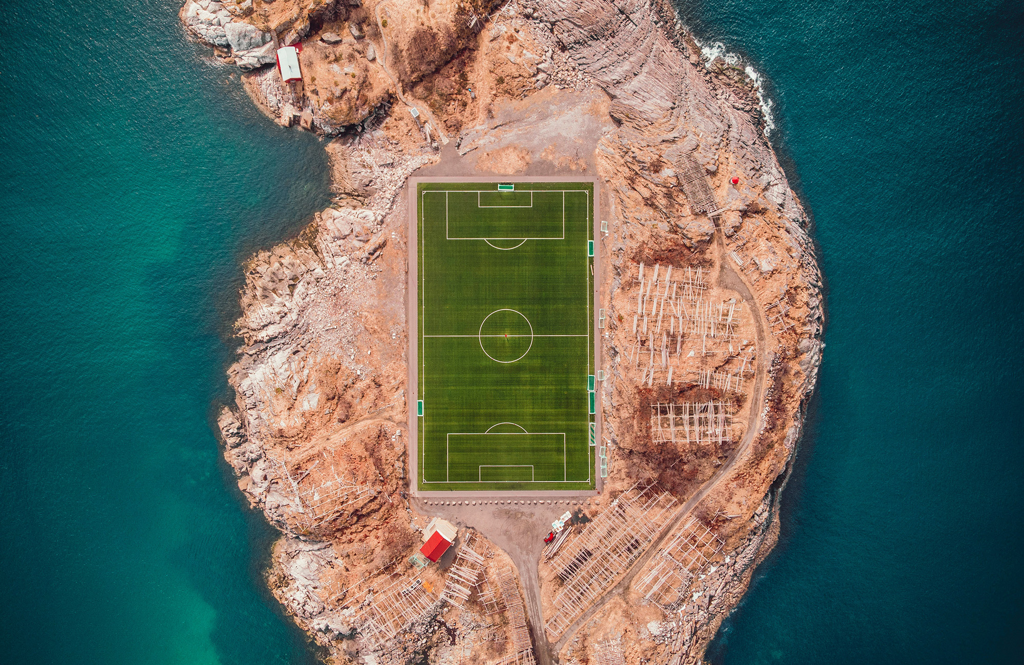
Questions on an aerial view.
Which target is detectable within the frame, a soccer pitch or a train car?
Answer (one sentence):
Visible in the photo is a soccer pitch.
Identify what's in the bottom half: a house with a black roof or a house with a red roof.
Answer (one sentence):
Visible in the bottom half is a house with a red roof.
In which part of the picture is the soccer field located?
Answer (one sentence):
The soccer field is located in the center region of the scene.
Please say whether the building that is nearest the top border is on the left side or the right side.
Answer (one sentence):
The building that is nearest the top border is on the left side of the image.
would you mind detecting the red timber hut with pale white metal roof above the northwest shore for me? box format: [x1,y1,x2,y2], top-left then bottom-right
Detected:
[276,46,302,84]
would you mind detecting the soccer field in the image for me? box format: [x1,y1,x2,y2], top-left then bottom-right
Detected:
[418,182,595,491]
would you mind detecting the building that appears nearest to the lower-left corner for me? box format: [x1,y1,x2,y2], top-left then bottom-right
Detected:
[420,530,451,563]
